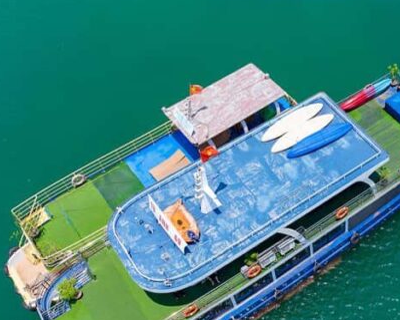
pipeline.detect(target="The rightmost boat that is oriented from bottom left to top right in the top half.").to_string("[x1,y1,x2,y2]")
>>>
[342,83,392,116]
